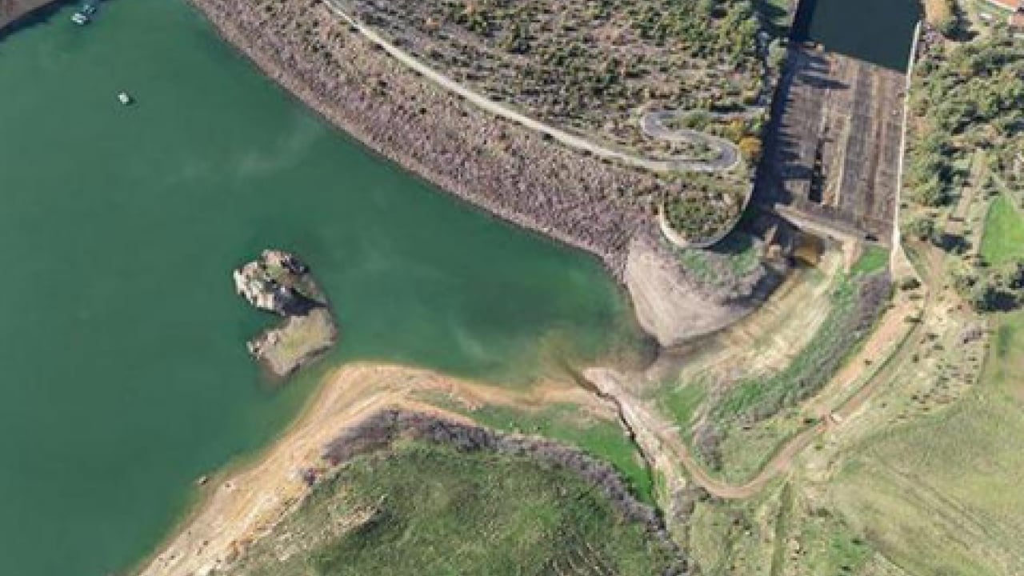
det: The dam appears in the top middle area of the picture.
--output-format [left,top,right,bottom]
[193,0,798,281]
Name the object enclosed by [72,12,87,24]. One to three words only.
boat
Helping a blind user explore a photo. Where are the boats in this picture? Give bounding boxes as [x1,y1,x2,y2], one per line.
[118,92,128,103]
[72,12,87,24]
[82,4,92,14]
